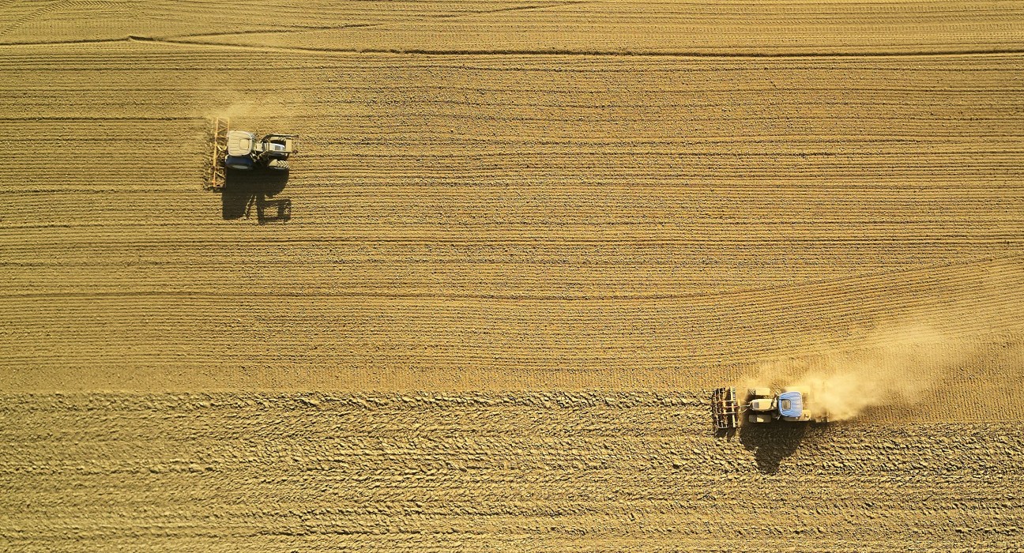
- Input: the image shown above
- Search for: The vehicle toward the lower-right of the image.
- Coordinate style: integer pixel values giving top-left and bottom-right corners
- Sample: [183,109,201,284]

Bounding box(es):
[741,386,813,425]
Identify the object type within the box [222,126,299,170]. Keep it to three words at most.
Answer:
work vehicle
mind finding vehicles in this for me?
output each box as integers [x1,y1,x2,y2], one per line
[741,386,813,425]
[222,126,299,170]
